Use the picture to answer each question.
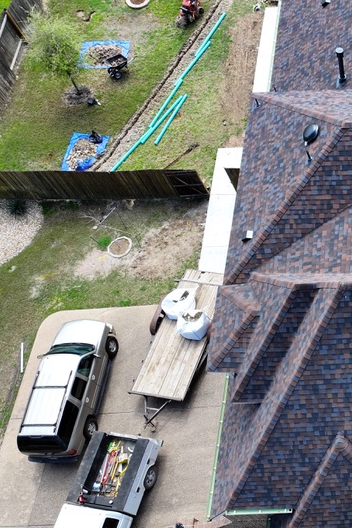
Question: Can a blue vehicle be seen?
No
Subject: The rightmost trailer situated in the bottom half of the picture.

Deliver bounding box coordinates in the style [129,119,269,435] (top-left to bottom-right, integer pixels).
[124,261,226,439]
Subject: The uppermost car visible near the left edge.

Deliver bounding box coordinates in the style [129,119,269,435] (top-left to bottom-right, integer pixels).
[17,323,119,465]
